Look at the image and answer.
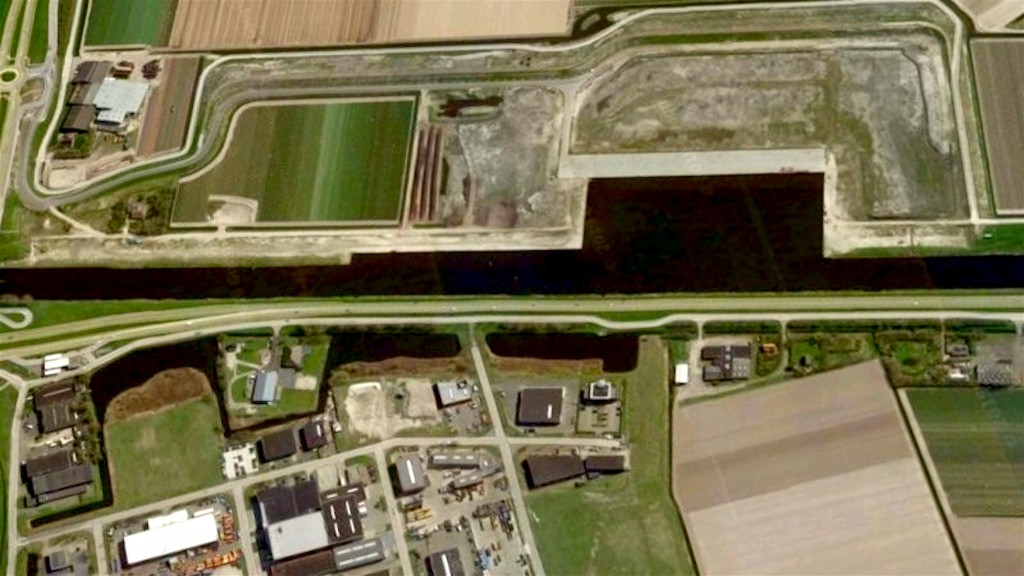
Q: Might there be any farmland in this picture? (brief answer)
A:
Yes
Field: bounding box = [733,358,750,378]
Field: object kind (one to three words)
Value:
barn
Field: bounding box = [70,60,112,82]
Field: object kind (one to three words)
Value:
barn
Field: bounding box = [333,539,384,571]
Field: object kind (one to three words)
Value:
building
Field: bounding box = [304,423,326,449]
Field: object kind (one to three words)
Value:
building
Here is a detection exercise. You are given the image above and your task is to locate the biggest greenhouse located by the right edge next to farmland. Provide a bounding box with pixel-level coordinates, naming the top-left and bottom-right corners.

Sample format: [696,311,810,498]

[978,363,1013,386]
